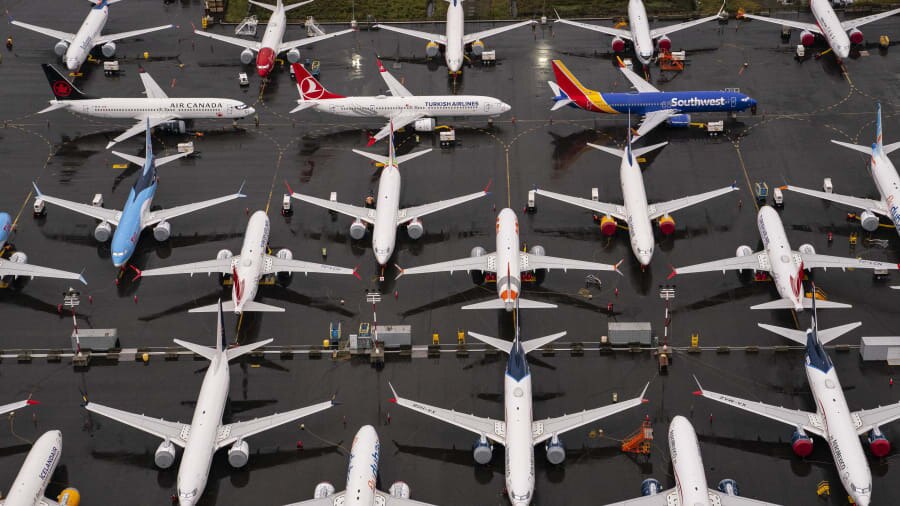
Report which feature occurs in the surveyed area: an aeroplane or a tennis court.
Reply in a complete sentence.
There is an aeroplane in the scene.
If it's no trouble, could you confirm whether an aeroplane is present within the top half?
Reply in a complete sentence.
Yes, I can see an aeroplane within the top half.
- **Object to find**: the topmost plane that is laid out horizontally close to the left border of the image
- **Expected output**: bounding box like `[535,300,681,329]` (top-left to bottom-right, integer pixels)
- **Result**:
[9,0,177,74]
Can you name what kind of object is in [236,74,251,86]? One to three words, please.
vehicle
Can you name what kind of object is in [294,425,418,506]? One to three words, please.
airplane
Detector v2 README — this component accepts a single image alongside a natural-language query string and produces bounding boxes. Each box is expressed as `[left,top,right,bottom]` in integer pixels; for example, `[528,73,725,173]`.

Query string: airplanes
[190,0,360,82]
[284,112,494,267]
[737,0,900,63]
[0,216,90,286]
[694,283,900,502]
[288,55,509,148]
[294,425,418,506]
[670,206,900,313]
[388,291,650,506]
[131,209,363,315]
[584,416,850,506]
[547,53,752,146]
[9,0,177,74]
[370,0,540,75]
[553,0,722,69]
[0,430,81,506]
[780,103,900,242]
[80,296,342,506]
[527,107,739,262]
[393,206,624,313]
[39,58,249,150]
[35,115,246,270]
